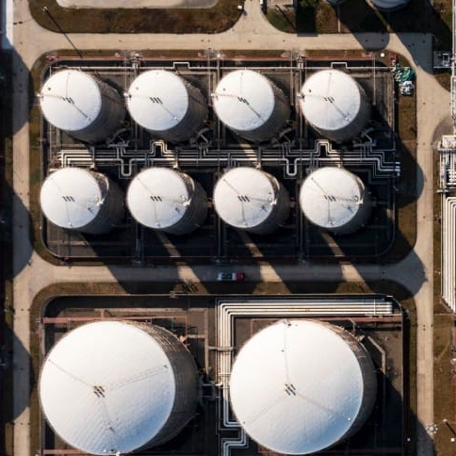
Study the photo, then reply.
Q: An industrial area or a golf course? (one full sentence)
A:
What you see here is an industrial area.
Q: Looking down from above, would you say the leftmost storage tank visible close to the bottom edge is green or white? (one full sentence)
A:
The leftmost storage tank visible close to the bottom edge is white.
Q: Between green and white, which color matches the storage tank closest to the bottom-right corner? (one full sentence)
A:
The color of the storage tank closest to the bottom-right corner is white.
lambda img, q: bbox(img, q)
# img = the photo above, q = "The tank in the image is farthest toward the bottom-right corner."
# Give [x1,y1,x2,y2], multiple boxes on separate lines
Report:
[229,313,379,456]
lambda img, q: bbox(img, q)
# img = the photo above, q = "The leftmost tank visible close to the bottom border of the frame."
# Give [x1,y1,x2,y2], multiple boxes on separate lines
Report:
[39,318,198,456]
